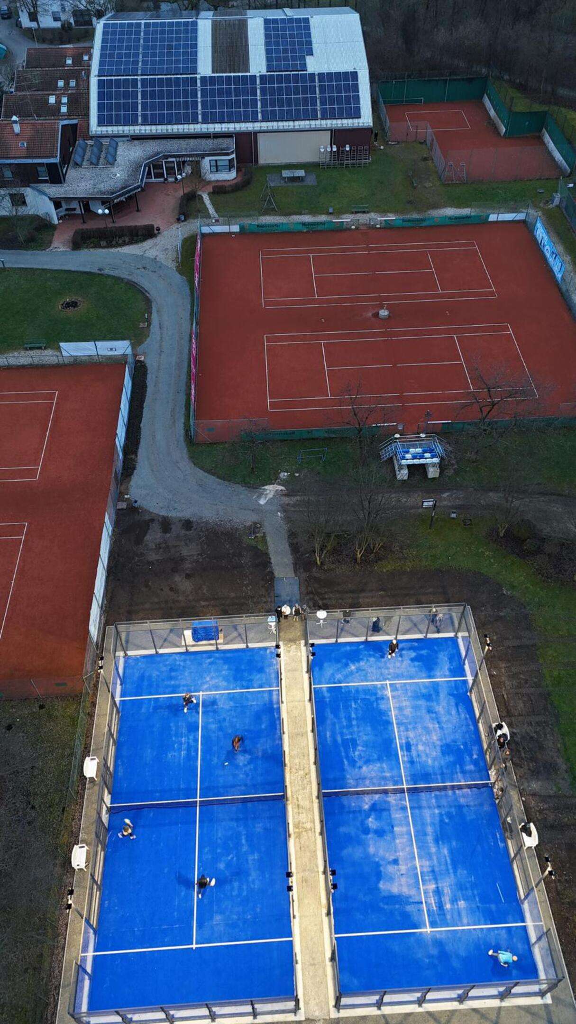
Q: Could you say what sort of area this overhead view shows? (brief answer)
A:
sports ground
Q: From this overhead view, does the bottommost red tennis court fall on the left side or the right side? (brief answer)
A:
left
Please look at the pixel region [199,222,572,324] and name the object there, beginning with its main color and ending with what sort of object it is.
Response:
red tennis court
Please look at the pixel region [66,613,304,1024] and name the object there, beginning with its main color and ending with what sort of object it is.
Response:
blue sports court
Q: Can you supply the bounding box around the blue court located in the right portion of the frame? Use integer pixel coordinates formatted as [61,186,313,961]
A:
[303,603,564,1012]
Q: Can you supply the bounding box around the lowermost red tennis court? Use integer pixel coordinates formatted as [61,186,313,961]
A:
[0,498,109,700]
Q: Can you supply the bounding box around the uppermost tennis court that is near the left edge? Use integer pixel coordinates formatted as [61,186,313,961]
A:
[0,363,125,503]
